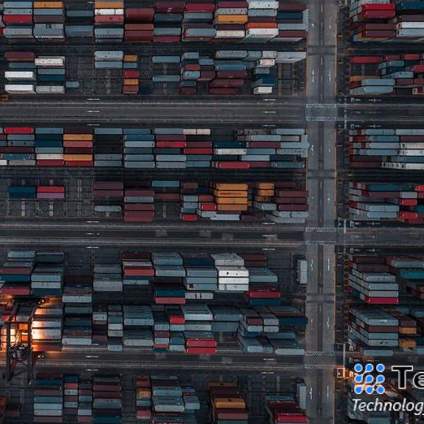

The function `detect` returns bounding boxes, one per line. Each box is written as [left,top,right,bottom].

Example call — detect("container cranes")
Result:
[9,297,47,381]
